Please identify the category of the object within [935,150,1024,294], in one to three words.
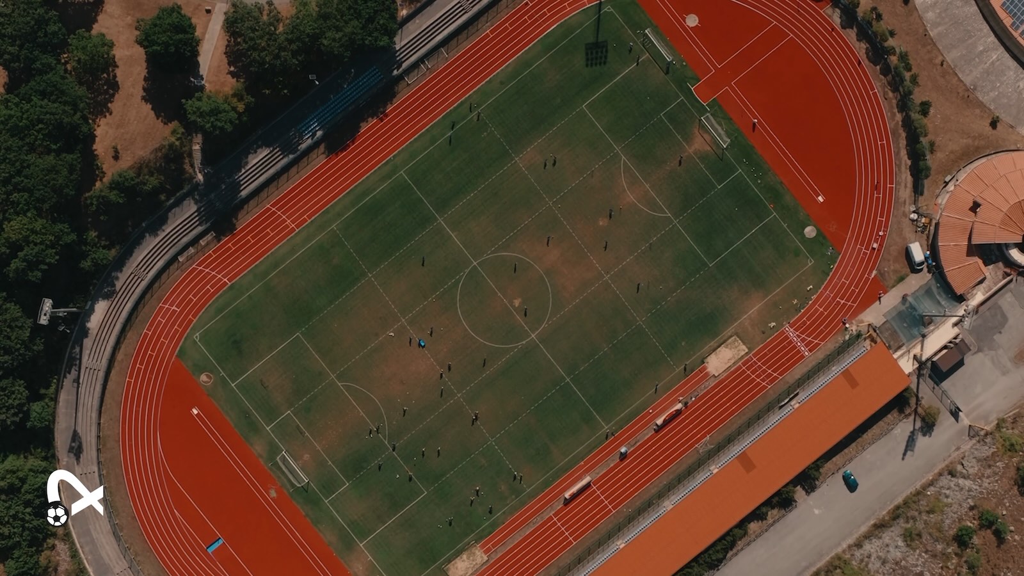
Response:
building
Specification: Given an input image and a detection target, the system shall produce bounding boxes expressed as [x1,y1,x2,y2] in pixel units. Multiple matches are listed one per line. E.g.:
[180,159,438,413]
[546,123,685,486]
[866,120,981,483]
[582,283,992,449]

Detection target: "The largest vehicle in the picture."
[908,243,925,270]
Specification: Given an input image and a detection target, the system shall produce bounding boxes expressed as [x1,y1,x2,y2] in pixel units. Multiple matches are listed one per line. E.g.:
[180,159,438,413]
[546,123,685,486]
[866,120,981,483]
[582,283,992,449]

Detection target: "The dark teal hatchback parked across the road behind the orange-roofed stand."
[843,471,859,492]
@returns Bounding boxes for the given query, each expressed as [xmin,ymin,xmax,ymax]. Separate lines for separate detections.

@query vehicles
[908,243,925,270]
[843,471,859,492]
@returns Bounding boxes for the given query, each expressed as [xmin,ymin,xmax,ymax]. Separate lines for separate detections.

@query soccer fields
[177,0,840,576]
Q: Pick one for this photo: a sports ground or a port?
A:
sports ground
